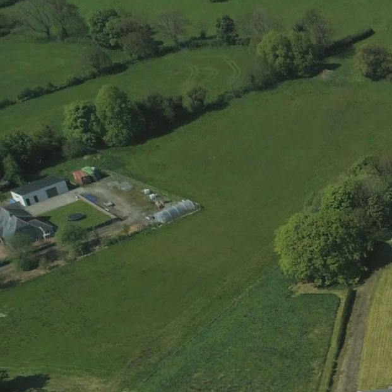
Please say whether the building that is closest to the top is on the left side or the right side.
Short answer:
left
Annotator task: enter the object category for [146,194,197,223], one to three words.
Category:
greenhouse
